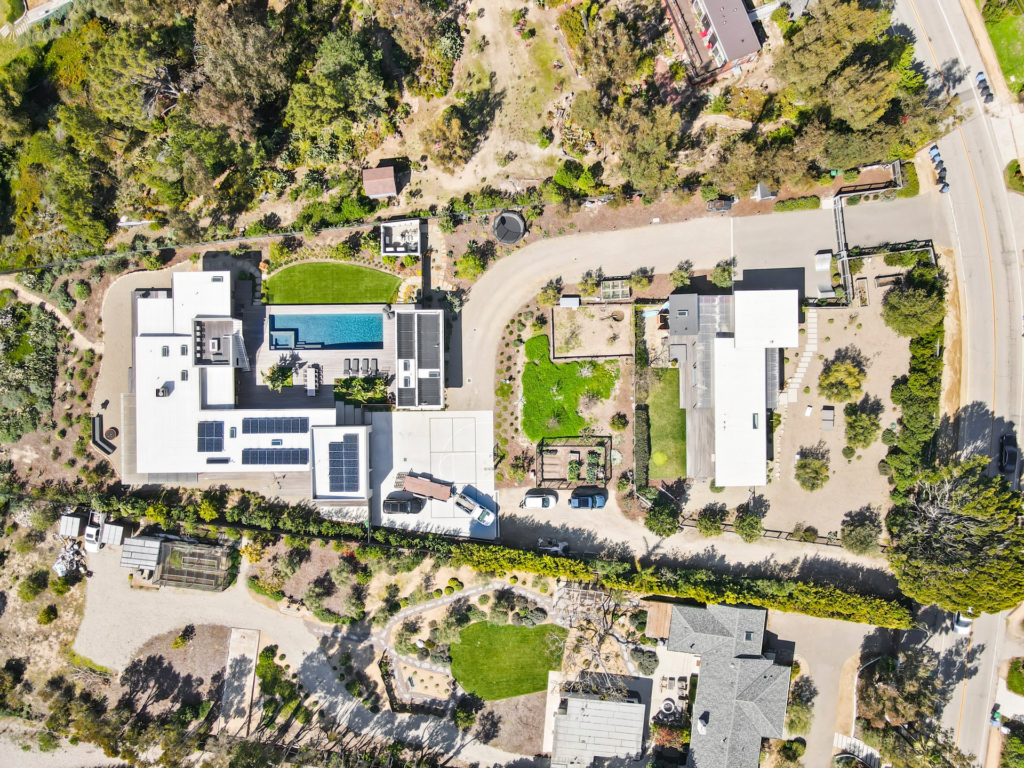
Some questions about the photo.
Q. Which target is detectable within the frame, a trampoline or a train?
trampoline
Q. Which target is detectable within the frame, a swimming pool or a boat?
swimming pool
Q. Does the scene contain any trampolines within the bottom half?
No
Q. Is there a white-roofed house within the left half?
Yes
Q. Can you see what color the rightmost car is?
black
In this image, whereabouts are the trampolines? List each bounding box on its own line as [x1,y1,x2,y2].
[492,208,525,244]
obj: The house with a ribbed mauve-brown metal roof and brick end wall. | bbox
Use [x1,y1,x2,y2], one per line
[696,0,761,73]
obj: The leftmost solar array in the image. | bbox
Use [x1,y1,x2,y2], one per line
[198,422,223,452]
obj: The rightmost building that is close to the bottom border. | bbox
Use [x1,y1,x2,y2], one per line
[667,602,791,768]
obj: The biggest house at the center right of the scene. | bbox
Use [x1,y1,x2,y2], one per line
[714,290,799,486]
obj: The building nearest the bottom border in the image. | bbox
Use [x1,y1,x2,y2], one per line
[551,686,645,768]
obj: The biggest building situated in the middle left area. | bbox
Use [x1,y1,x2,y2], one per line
[136,271,378,499]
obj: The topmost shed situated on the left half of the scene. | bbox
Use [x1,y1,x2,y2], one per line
[362,166,398,199]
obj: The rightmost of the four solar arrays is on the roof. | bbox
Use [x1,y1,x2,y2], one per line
[329,435,358,492]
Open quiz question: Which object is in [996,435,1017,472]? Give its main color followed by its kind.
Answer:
black car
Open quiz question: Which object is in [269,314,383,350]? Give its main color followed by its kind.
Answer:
blue swimming pool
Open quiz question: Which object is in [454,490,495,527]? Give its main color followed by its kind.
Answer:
white truck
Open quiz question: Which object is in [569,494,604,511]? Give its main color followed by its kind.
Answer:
blue car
